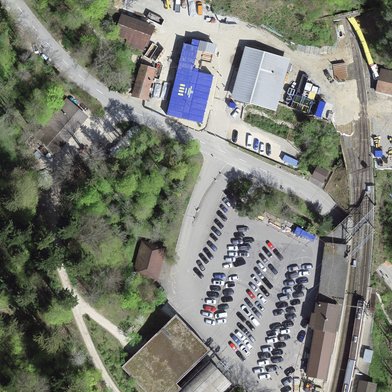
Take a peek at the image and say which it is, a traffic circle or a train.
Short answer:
train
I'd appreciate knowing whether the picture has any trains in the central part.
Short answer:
No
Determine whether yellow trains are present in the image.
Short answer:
Yes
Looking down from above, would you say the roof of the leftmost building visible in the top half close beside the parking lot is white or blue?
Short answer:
blue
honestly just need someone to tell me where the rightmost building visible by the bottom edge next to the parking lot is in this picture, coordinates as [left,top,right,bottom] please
[306,302,340,380]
